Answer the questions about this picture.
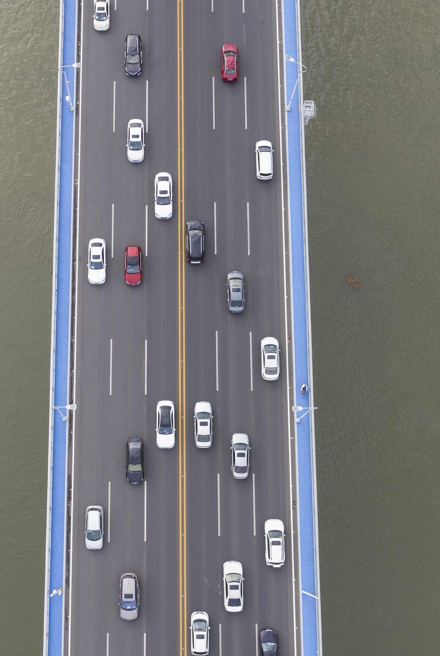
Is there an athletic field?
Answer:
No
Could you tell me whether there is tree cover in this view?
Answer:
No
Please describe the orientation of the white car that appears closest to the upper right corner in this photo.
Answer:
from top to bottom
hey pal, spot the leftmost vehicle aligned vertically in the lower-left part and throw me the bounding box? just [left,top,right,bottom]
[83,506,104,550]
